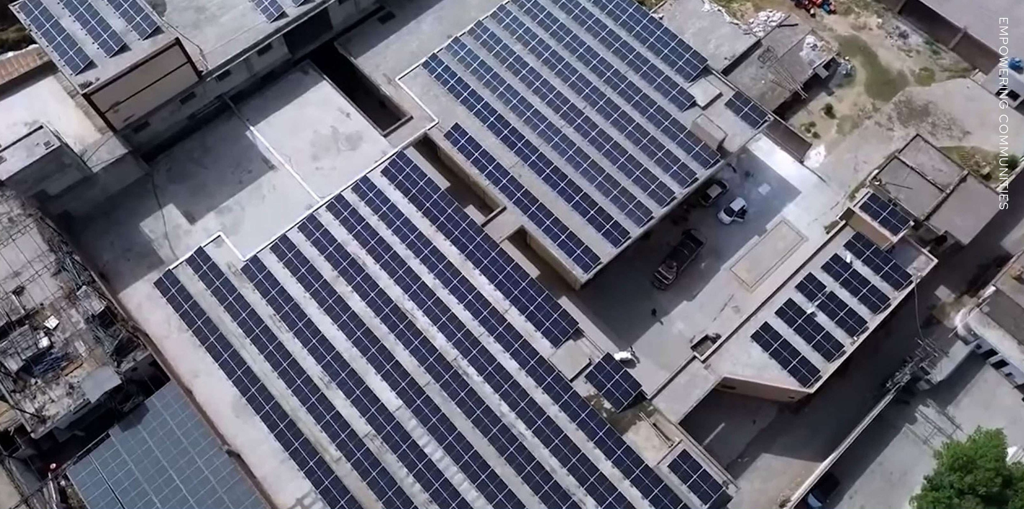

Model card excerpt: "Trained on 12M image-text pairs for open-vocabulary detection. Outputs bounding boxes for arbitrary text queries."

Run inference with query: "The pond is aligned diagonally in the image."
[840,35,906,97]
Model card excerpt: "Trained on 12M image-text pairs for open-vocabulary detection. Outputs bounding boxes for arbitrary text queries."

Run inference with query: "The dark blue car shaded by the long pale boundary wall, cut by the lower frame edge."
[802,473,843,509]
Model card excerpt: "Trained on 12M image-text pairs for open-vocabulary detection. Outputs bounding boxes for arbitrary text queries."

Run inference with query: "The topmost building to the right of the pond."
[900,0,1024,78]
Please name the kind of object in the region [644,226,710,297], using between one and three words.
truck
